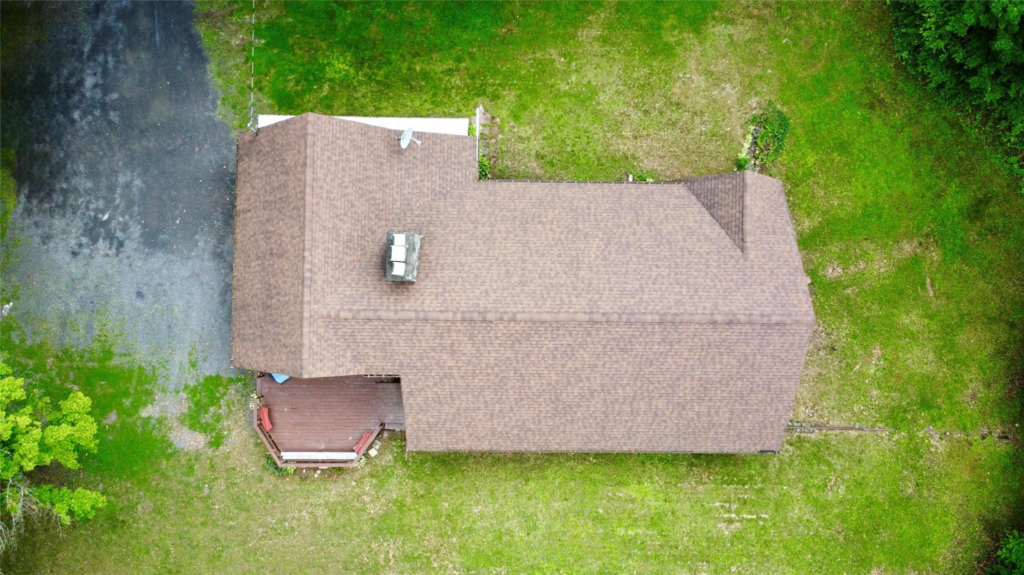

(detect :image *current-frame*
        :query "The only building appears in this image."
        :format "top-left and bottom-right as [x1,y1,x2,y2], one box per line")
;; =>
[230,105,815,458]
